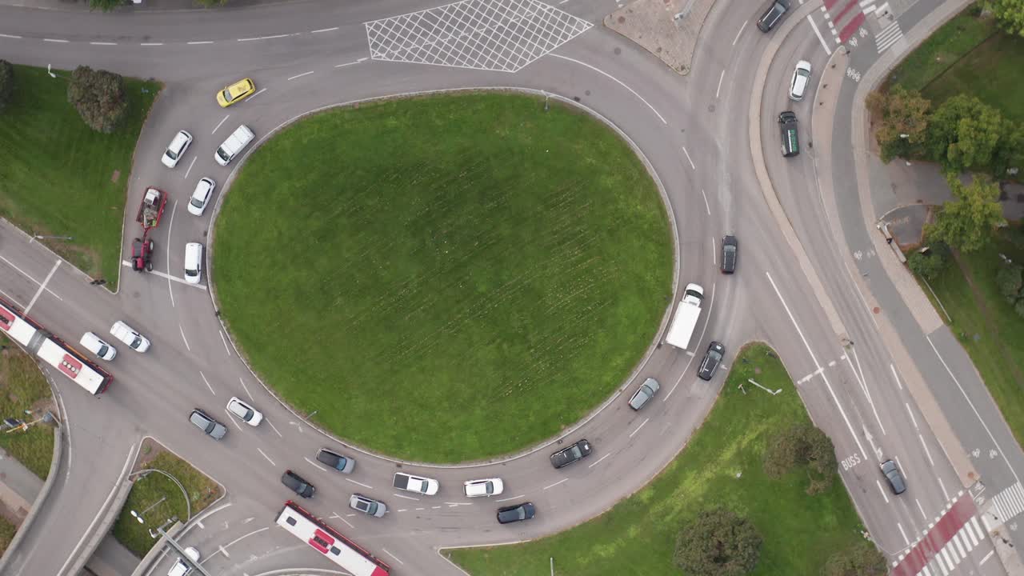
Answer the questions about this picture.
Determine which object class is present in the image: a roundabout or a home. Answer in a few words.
roundabout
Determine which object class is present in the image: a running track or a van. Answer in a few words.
van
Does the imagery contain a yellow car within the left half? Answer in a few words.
Yes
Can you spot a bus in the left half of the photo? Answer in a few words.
Yes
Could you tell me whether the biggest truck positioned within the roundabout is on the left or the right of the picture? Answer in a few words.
right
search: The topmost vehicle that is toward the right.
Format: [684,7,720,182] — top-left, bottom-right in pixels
[756,0,791,34]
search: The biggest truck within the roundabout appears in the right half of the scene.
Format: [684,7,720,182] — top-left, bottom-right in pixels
[667,284,706,349]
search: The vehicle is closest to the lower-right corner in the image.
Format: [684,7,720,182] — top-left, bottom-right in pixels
[879,459,906,494]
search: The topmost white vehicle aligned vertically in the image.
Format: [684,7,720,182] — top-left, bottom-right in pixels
[788,61,812,101]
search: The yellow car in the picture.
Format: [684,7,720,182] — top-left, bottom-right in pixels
[218,79,256,107]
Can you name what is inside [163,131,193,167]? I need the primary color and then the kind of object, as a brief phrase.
white car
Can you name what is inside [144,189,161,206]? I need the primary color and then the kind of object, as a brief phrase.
white vehicle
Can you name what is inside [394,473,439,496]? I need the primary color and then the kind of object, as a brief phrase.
white truck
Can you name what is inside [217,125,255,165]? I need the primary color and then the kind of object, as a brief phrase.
white van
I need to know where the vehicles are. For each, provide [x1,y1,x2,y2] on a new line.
[667,284,706,349]
[78,330,118,360]
[627,377,659,411]
[394,473,439,496]
[551,439,591,468]
[190,179,217,215]
[227,396,263,426]
[144,189,161,206]
[276,499,393,576]
[316,447,355,473]
[183,243,205,283]
[464,478,503,497]
[0,292,118,396]
[778,112,800,157]
[218,79,256,107]
[719,235,739,274]
[109,319,151,351]
[189,408,227,439]
[163,131,193,167]
[696,341,723,380]
[788,61,812,101]
[756,0,791,34]
[348,493,387,517]
[280,468,316,499]
[879,459,906,494]
[126,236,153,270]
[496,502,536,524]
[217,125,255,165]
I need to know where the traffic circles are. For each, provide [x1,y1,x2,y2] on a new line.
[173,54,713,500]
